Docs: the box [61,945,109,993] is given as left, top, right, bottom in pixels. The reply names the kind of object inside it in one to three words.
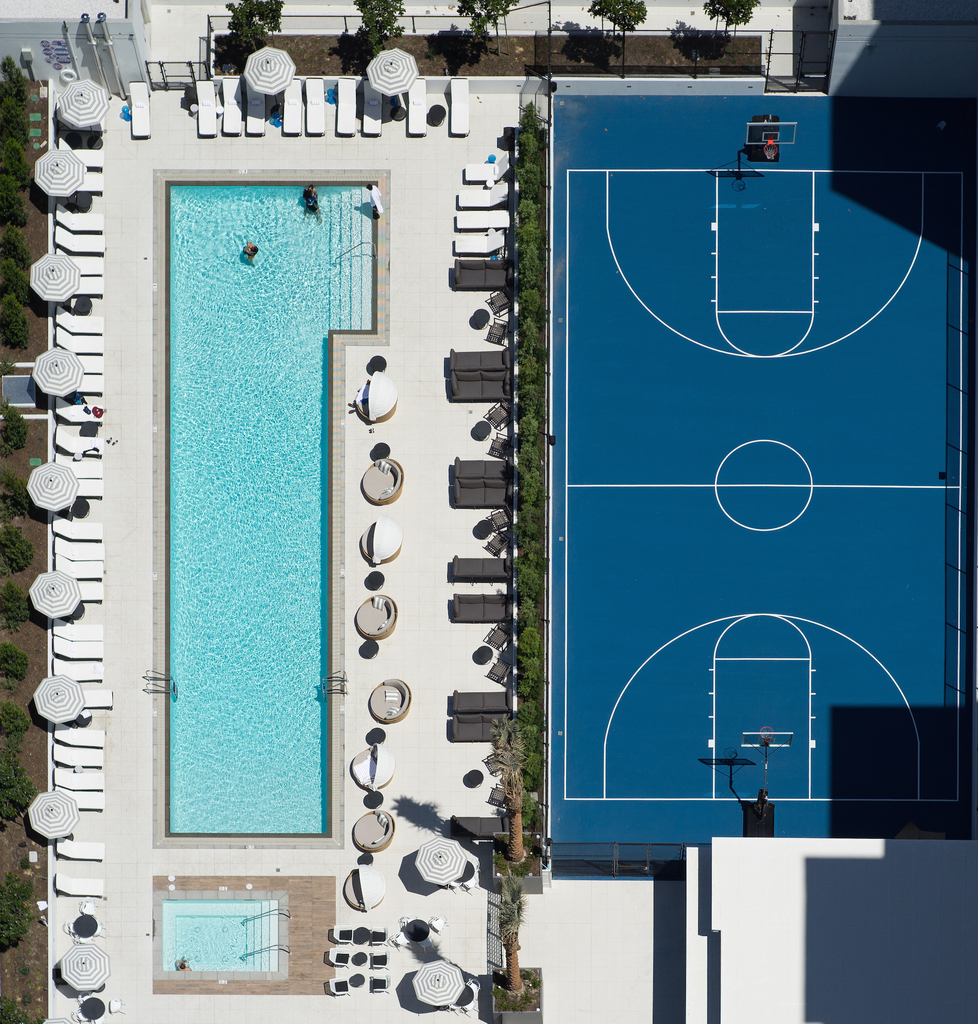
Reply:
umbrella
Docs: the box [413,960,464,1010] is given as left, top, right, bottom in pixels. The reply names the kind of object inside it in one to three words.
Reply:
umbrella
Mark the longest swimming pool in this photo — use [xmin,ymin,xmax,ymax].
[153,169,390,849]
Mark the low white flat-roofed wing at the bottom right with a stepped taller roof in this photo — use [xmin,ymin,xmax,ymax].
[683,837,978,1024]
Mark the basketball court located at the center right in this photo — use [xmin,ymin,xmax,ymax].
[553,95,972,880]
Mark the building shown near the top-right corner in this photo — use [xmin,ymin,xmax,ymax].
[828,0,978,96]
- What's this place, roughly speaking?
sports ground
